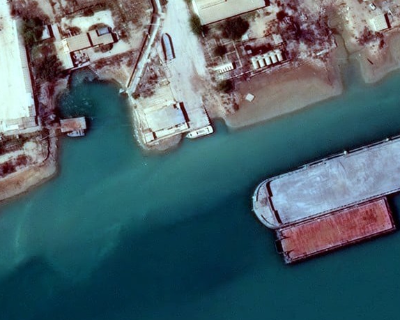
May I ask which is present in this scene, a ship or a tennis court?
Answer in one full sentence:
The image shows a ship.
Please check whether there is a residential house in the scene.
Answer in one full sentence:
Yes, this view includes a residential house.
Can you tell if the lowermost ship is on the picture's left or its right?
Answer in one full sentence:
It is on the right.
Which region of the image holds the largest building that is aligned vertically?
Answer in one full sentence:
You can find the largest building that is aligned vertically in the top left area of the picture.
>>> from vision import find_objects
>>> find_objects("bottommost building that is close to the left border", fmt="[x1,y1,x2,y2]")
[2,117,38,131]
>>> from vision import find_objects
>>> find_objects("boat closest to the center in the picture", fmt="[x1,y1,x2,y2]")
[187,123,214,139]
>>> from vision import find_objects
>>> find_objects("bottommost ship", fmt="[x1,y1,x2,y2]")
[276,196,397,262]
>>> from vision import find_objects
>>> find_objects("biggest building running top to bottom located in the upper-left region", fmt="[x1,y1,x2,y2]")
[12,22,37,120]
